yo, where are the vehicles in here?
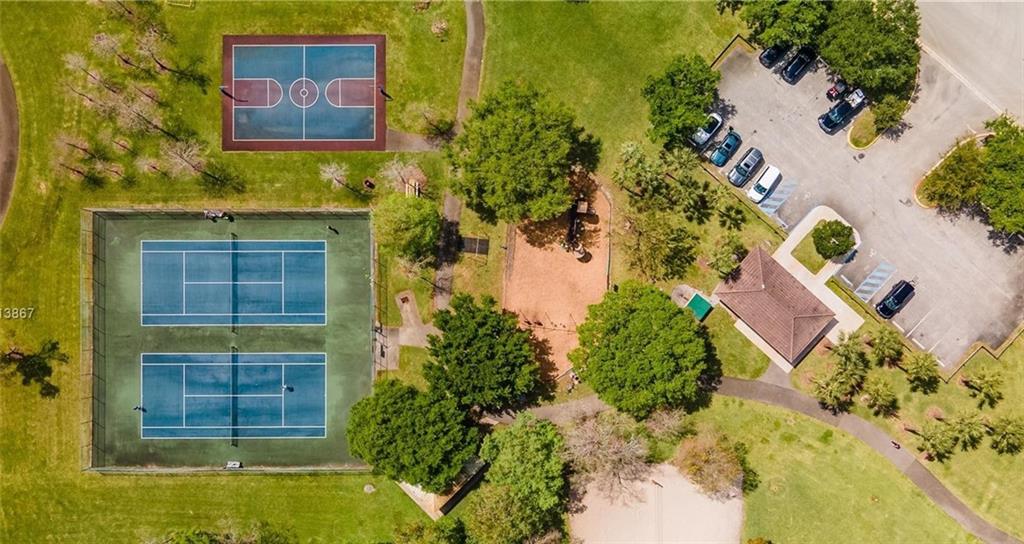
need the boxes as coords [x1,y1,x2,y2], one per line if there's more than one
[756,37,790,71]
[876,279,913,319]
[709,130,743,167]
[727,146,765,187]
[778,47,816,87]
[690,111,724,148]
[746,164,783,204]
[819,89,865,131]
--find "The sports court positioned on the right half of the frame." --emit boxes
[570,461,743,544]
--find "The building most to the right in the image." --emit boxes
[716,246,835,362]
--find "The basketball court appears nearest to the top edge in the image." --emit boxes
[222,35,386,151]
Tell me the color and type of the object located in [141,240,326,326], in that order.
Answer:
blue tennis court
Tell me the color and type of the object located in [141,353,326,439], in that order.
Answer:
blue tennis court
